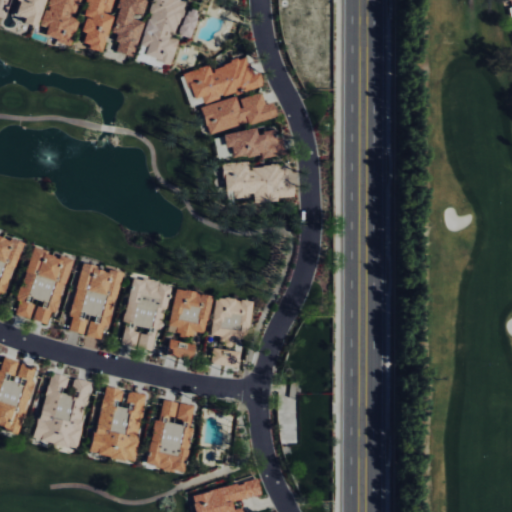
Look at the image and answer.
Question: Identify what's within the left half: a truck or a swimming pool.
swimming pool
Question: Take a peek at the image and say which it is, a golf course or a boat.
golf course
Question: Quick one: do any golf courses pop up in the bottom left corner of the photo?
Yes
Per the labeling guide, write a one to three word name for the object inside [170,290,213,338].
house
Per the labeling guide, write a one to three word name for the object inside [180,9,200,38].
building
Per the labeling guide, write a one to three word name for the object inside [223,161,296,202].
house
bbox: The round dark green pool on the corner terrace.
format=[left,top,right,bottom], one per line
[0,10,33,35]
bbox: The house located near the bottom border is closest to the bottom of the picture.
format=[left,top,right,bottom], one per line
[194,480,262,512]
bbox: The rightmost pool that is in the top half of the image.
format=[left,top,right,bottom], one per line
[194,0,248,52]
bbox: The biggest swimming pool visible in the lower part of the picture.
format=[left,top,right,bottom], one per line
[200,408,234,448]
